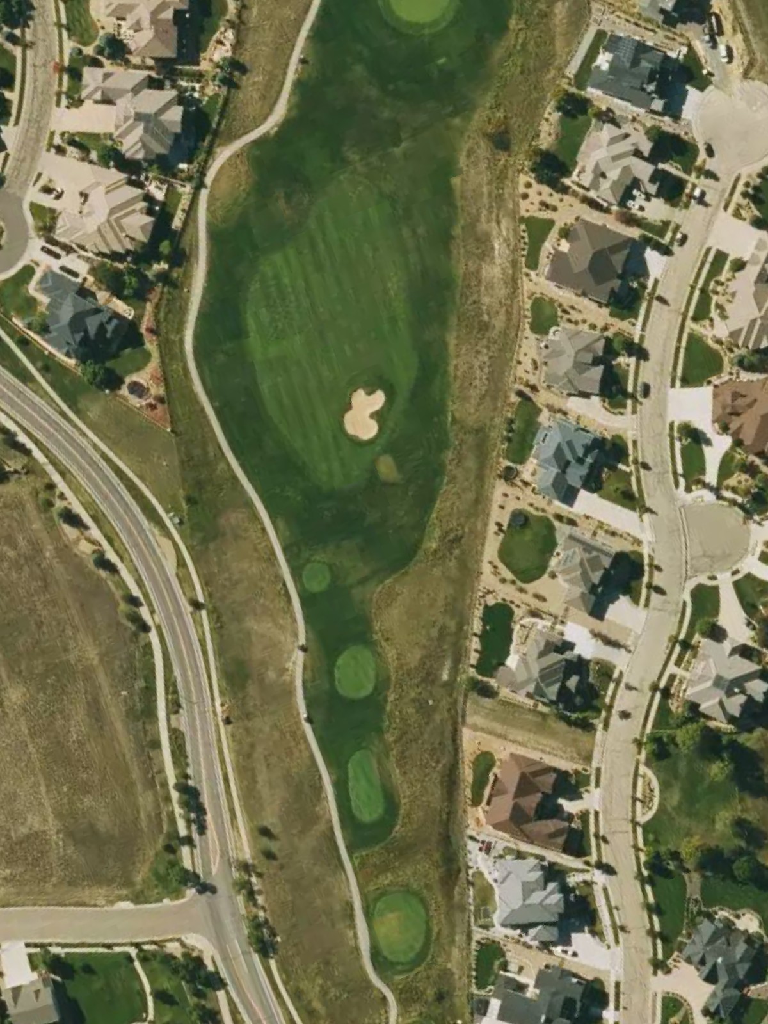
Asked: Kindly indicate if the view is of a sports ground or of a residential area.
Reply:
residential area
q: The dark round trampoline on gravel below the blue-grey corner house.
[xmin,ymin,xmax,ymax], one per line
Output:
[128,381,144,397]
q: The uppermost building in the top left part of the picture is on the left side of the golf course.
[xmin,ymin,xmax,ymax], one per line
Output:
[102,0,191,65]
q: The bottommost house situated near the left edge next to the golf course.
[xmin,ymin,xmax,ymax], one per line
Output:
[37,270,136,364]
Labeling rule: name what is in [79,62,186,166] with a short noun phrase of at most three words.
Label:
house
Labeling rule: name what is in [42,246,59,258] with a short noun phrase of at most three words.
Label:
vehicle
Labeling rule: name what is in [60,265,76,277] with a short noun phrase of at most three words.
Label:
vehicle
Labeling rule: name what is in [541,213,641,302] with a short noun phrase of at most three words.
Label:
house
